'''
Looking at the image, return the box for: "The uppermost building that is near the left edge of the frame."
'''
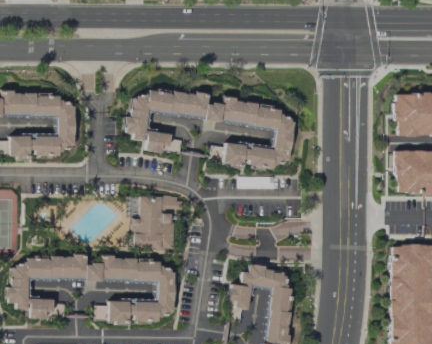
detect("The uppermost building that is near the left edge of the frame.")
[0,89,78,162]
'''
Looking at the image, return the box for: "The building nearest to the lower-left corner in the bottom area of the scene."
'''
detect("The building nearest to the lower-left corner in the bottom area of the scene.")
[5,254,176,325]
